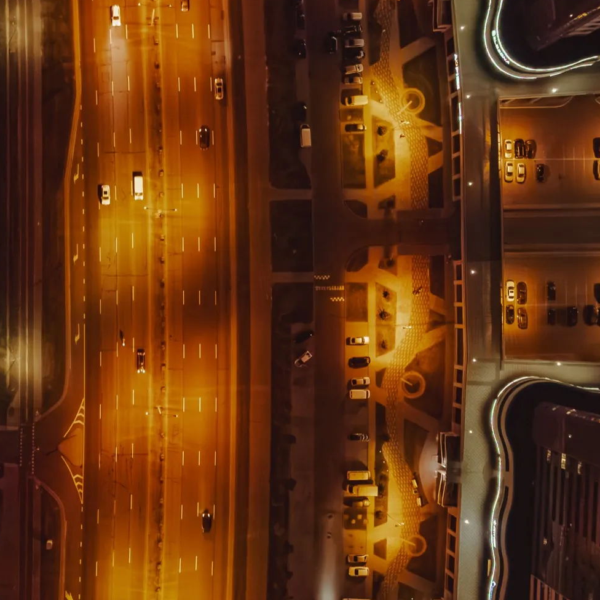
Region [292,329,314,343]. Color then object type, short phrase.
black car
